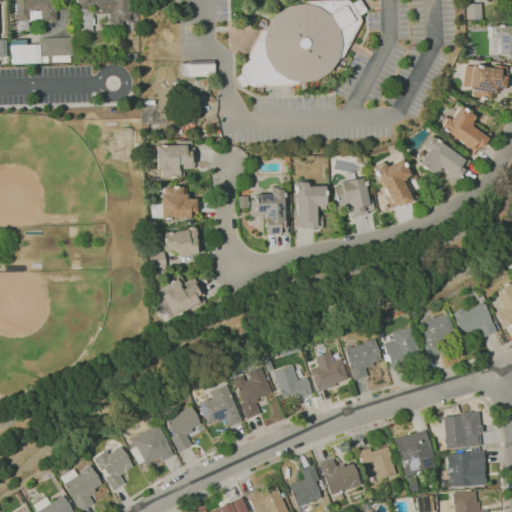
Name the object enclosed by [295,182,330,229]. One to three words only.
house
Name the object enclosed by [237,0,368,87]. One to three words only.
building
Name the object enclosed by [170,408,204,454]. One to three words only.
house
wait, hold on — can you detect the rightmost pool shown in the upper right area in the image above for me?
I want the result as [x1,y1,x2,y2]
[410,129,430,150]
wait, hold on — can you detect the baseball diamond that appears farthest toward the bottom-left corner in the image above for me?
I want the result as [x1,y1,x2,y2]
[0,270,110,400]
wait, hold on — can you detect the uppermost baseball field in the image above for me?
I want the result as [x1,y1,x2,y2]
[0,113,107,226]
